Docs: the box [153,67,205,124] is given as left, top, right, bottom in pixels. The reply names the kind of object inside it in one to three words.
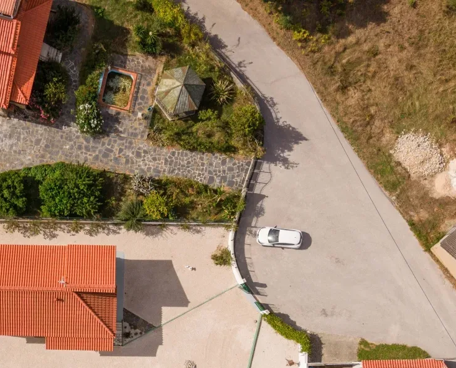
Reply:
gazebo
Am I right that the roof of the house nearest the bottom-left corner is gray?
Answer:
No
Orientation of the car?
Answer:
from left to right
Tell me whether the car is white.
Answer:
Yes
